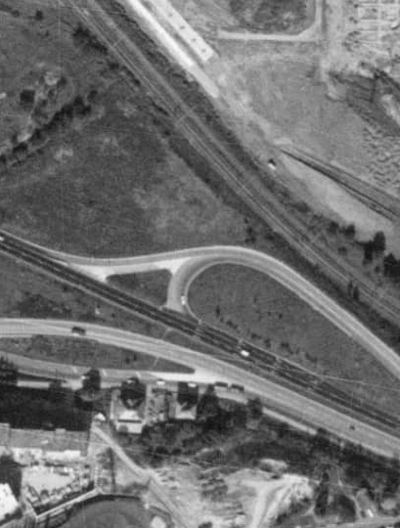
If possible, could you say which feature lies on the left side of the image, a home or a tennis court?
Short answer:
home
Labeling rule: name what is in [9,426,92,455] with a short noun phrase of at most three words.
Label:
building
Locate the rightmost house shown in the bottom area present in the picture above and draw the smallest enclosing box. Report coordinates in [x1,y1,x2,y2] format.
[175,405,196,425]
